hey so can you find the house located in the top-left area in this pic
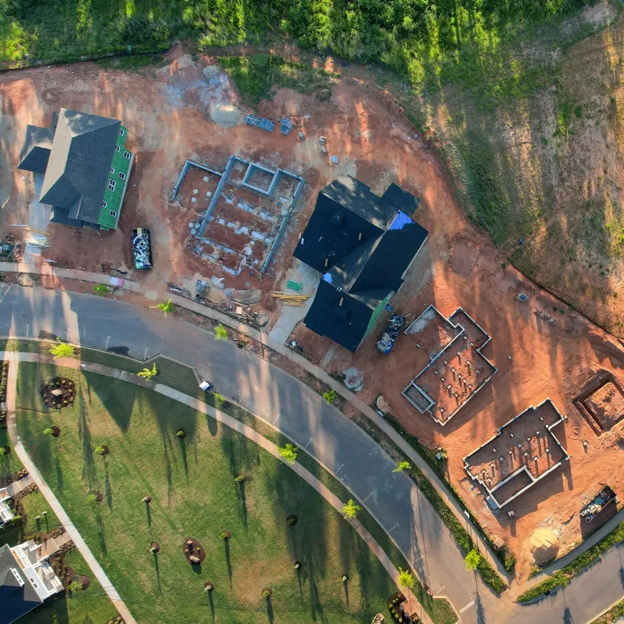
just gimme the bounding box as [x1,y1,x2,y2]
[18,107,136,231]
